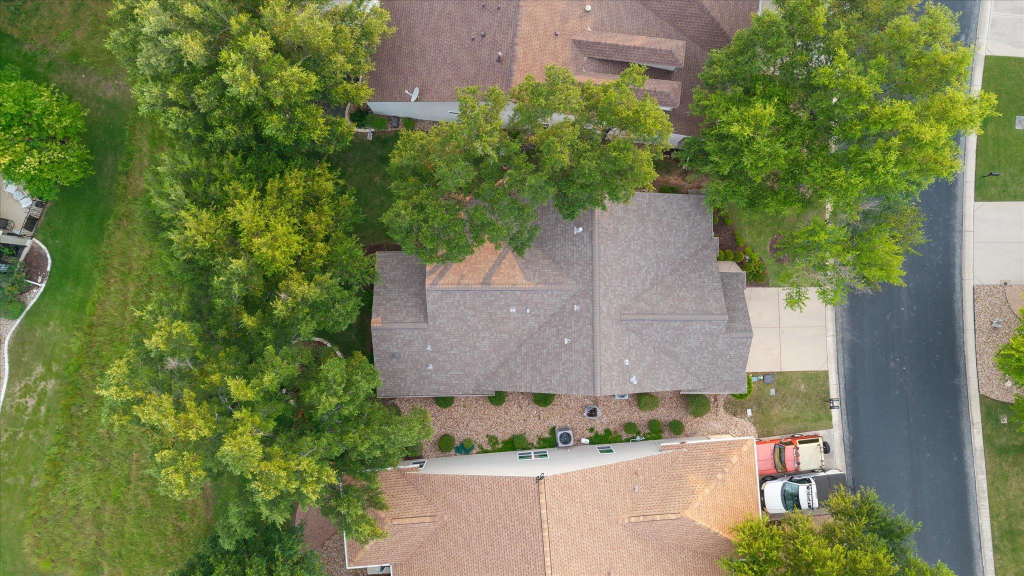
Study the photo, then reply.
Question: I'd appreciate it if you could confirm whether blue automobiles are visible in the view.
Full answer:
No, the picture doesn't show any blue automobile.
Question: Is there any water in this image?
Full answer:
No, there's no water in this view.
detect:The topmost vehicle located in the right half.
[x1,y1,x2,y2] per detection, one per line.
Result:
[758,434,828,475]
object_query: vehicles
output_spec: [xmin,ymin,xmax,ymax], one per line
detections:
[758,434,828,475]
[761,468,854,515]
